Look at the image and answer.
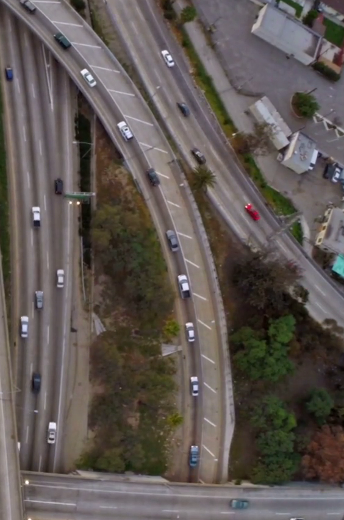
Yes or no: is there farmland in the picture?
No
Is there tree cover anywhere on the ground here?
Yes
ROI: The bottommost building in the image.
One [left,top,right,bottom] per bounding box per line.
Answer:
[312,208,344,256]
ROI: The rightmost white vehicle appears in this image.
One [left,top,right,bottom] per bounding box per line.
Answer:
[330,166,343,183]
